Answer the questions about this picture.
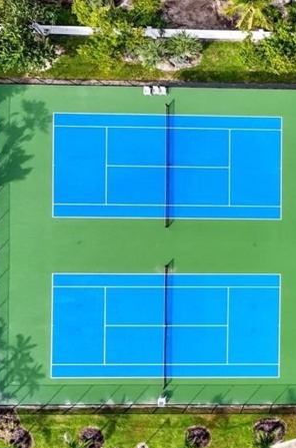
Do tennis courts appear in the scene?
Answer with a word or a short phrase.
Yes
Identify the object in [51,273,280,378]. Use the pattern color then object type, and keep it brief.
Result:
blue tennis court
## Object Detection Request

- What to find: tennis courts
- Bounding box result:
[52,112,281,220]
[51,273,280,378]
